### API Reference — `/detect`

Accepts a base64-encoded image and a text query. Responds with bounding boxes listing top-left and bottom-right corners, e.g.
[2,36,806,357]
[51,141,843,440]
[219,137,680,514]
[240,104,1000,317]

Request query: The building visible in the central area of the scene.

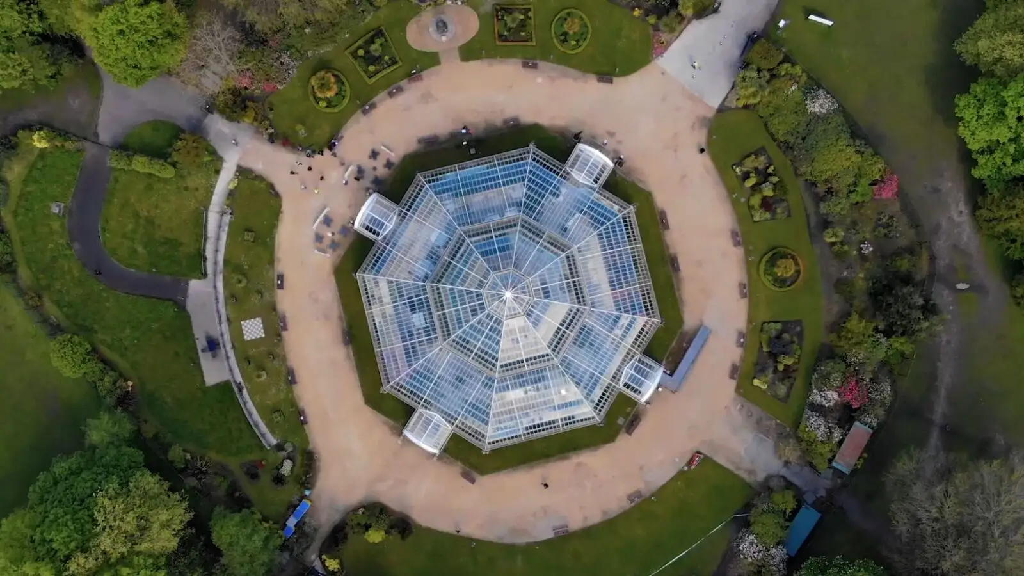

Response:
[352,142,667,458]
